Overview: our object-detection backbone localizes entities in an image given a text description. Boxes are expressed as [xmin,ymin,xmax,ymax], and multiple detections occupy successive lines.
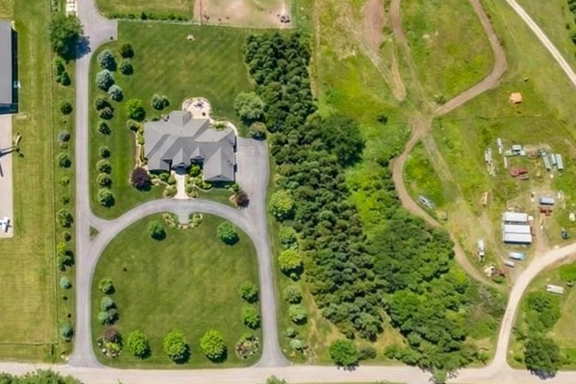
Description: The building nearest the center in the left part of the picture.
[144,111,234,181]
